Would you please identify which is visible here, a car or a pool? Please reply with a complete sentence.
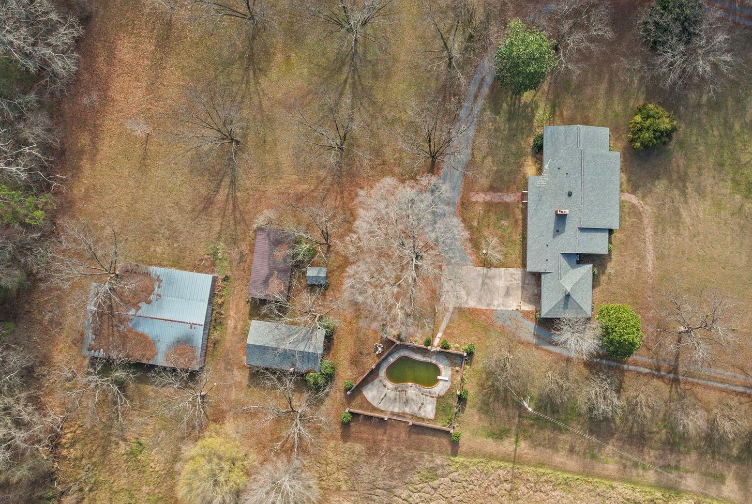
I can see a pool in this picture.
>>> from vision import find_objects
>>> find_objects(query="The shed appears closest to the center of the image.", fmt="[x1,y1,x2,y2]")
[307,268,329,285]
